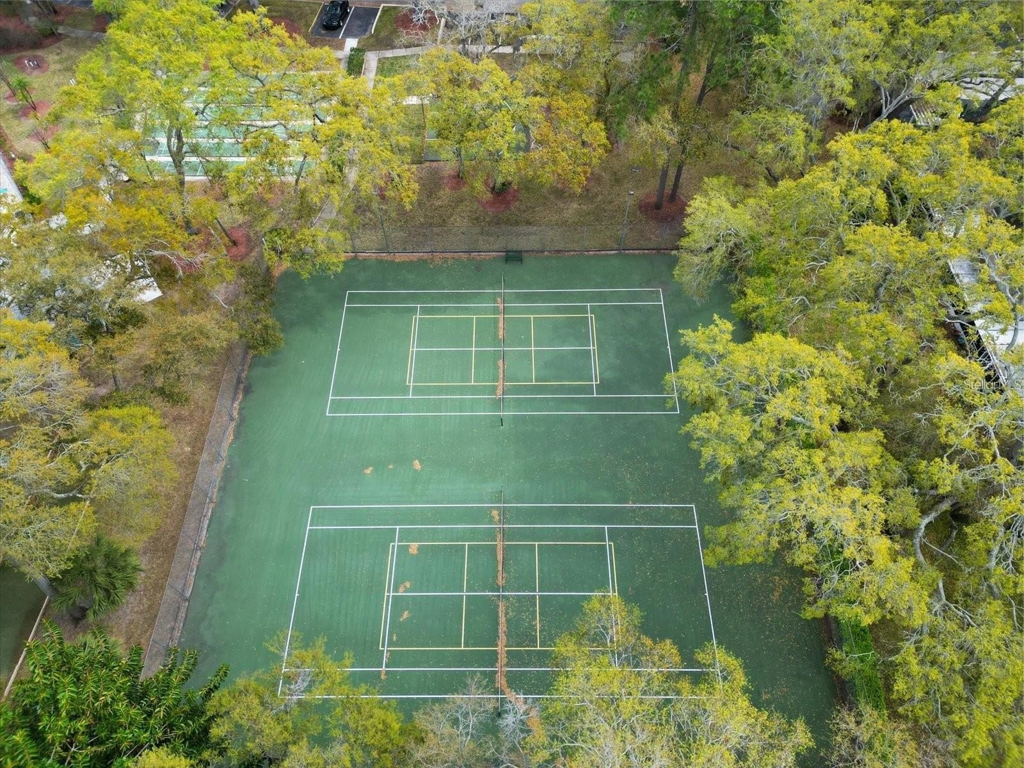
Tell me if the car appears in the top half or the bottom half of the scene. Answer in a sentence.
You can find the car in the top half.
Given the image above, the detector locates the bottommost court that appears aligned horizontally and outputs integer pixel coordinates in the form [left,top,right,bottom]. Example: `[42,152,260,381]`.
[253,498,748,706]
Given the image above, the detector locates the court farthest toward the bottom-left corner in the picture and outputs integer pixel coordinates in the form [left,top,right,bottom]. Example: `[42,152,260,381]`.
[0,527,79,704]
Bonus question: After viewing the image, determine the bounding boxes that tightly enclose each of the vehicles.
[317,0,342,29]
